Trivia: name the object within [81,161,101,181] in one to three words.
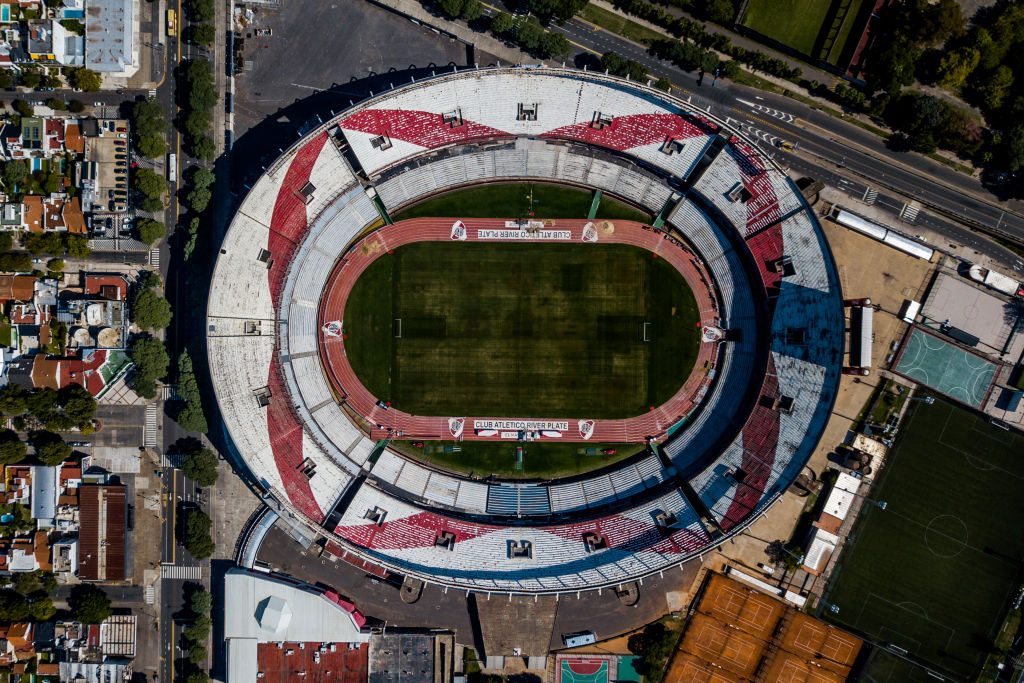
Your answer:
building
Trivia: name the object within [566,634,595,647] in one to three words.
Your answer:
vehicle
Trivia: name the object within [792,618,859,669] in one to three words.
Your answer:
tennis court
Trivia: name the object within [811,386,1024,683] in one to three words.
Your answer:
soccer field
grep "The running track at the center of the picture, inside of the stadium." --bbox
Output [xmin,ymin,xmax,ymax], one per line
[322,219,723,441]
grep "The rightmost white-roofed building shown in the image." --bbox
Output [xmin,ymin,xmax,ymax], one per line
[976,271,1018,295]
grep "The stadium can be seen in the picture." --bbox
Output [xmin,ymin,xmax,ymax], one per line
[205,56,846,603]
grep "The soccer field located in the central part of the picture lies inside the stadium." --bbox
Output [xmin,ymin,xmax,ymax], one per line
[345,243,699,417]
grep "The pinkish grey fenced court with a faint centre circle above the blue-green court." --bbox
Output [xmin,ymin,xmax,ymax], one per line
[923,274,1013,348]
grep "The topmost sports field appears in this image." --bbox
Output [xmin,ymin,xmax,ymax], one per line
[744,0,835,54]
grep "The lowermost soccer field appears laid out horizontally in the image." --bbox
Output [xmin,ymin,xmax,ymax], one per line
[846,645,947,683]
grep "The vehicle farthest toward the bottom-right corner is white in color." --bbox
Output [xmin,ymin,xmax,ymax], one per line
[759,563,776,575]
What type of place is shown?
sports ground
